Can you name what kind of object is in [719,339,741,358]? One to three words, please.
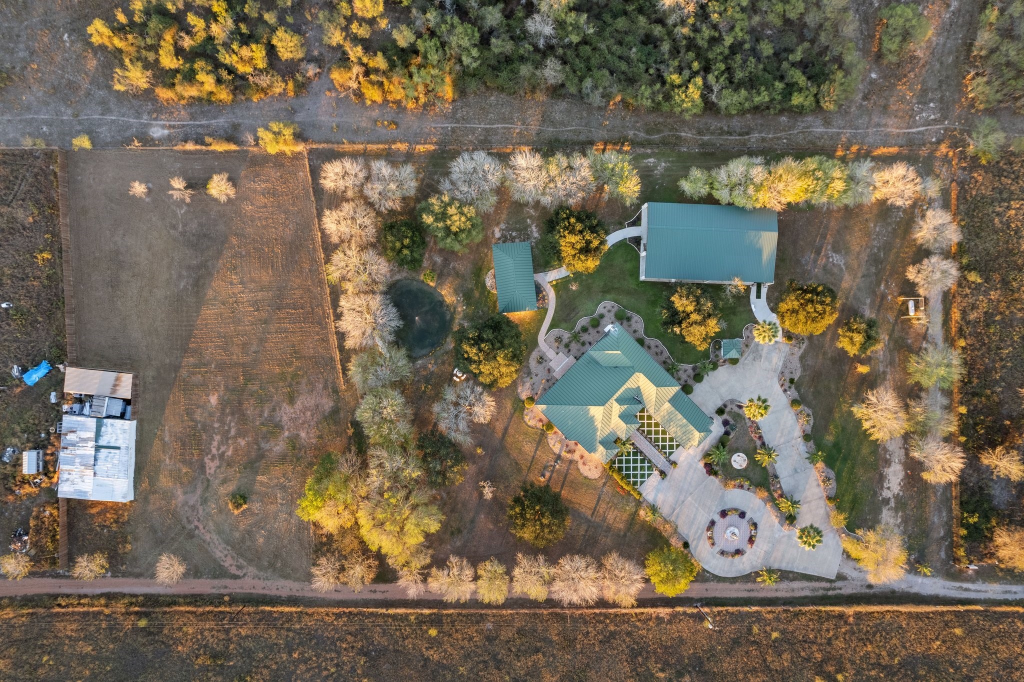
shed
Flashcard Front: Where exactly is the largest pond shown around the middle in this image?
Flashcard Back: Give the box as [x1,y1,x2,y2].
[386,279,453,358]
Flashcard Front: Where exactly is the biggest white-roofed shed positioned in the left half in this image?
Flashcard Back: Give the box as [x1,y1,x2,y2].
[57,414,139,502]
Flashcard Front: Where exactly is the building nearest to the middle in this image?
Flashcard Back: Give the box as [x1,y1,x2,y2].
[492,241,538,313]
